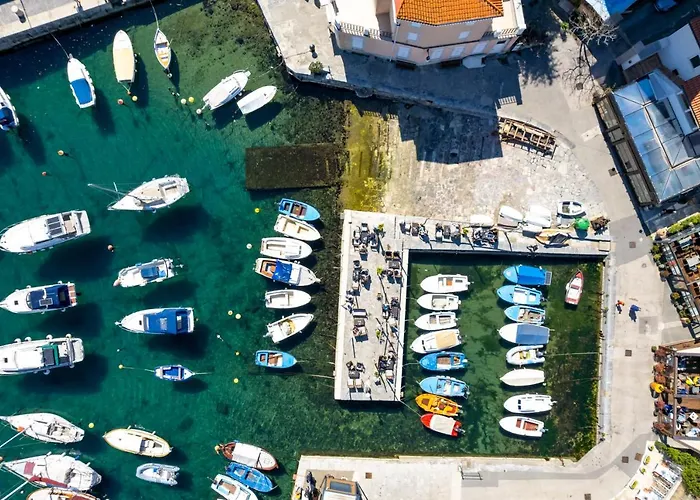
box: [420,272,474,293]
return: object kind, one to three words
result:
boat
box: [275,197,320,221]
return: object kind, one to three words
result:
boat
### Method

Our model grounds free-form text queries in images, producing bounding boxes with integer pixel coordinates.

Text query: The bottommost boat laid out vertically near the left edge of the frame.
[0,85,24,135]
